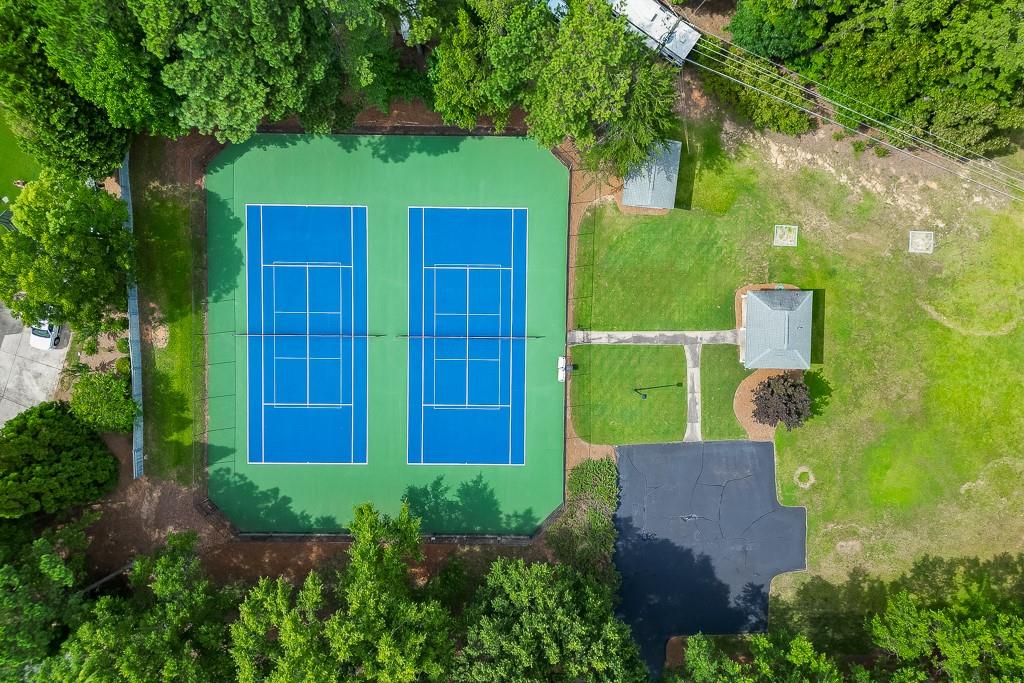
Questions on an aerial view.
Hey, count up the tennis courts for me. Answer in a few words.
2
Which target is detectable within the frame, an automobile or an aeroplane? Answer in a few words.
automobile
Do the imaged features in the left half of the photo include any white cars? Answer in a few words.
Yes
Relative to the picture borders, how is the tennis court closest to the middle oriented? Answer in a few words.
vertically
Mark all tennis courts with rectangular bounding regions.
[246,204,367,464]
[407,207,528,465]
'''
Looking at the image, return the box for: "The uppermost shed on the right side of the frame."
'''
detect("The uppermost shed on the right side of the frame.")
[622,138,681,209]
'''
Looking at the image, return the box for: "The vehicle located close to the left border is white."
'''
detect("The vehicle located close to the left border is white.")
[26,320,55,355]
